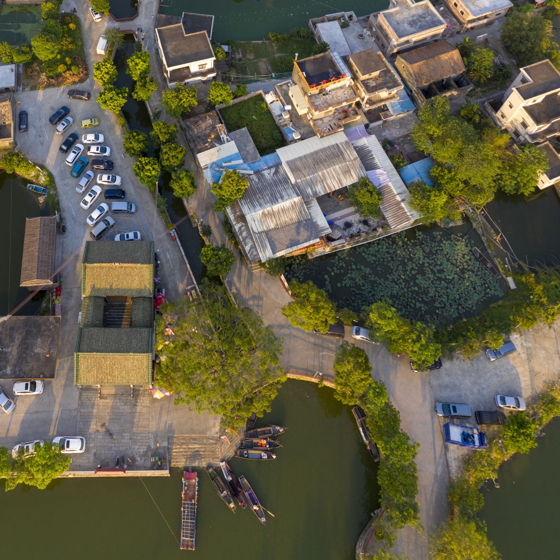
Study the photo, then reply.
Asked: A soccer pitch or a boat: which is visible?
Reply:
boat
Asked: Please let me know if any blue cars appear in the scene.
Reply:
Yes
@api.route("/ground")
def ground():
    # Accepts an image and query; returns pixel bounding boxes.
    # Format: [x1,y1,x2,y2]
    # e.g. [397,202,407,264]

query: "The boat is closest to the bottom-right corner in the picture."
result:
[351,408,378,462]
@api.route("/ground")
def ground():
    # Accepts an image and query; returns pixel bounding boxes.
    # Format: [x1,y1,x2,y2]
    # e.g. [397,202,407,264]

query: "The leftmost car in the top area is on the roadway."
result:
[16,112,29,133]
